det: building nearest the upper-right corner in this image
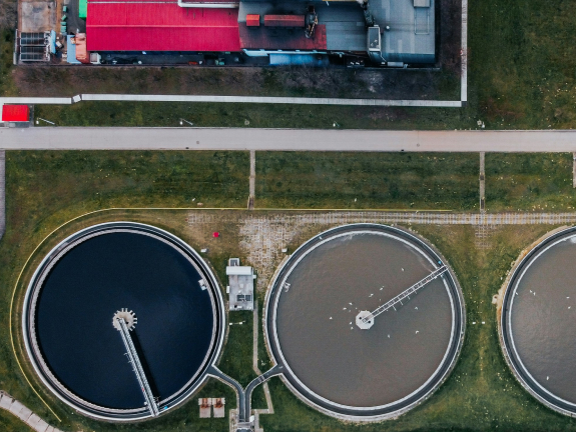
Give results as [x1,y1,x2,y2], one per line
[358,0,435,67]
